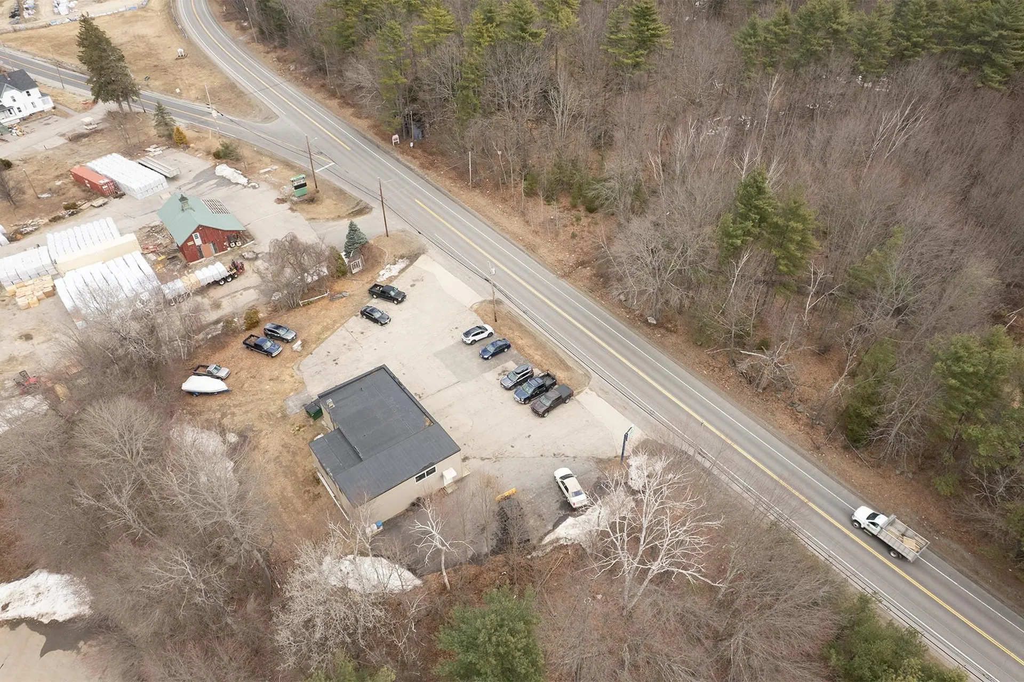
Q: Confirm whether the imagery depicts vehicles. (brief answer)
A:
Yes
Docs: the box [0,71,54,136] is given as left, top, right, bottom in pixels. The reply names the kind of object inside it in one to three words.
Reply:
house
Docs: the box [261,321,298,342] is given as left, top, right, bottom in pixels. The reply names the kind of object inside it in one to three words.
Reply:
car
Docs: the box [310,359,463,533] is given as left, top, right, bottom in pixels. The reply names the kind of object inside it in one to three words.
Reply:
building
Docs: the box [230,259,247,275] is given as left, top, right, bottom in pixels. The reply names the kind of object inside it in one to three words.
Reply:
work vehicle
